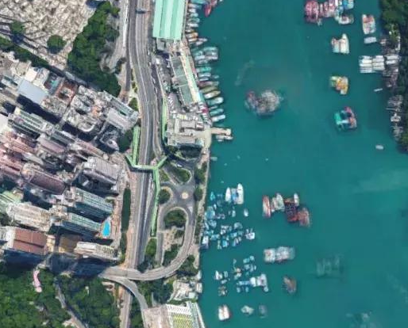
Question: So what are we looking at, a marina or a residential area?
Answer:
marina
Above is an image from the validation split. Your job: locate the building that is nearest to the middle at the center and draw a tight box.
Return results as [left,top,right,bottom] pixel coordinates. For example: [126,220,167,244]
[166,120,209,146]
